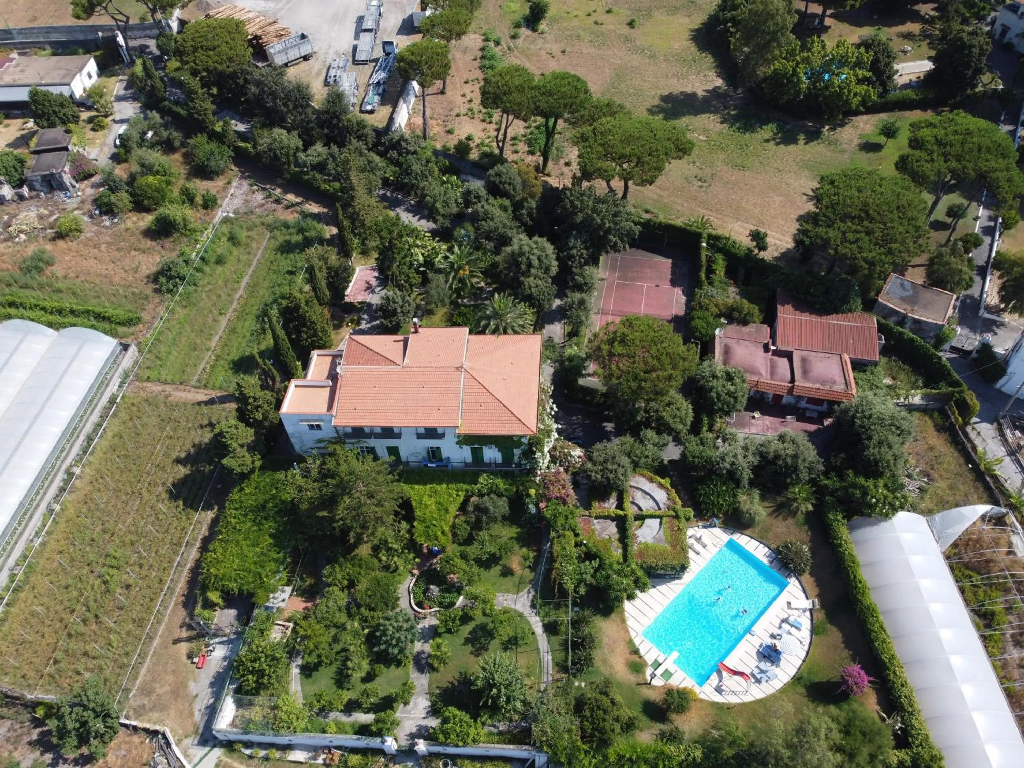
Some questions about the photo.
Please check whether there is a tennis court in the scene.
Yes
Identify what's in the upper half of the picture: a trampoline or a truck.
truck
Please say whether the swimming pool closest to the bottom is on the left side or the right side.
right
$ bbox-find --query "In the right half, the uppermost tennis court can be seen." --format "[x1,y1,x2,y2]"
[586,240,709,418]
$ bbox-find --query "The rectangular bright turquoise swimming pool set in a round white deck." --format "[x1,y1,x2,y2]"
[636,533,796,693]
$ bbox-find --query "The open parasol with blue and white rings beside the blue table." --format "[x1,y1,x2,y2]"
[777,634,802,658]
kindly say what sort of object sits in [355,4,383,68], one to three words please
truck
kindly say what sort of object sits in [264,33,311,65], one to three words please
trailer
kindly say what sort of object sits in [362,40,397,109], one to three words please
truck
